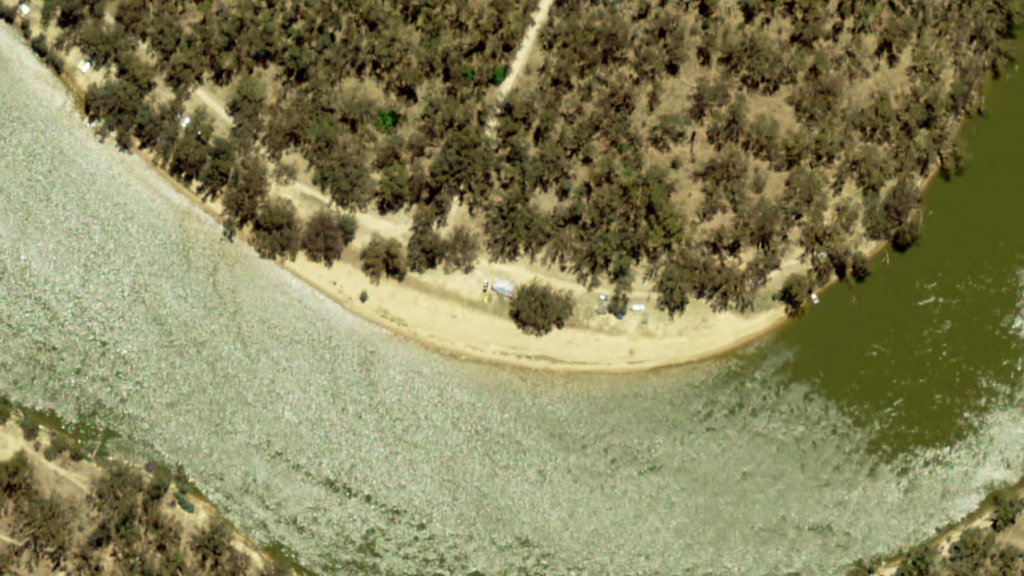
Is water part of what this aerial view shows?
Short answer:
Yes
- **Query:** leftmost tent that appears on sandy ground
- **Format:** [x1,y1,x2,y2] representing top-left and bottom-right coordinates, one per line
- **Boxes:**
[492,277,513,297]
